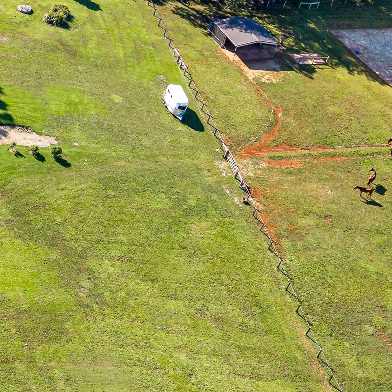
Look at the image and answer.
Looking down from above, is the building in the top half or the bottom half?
top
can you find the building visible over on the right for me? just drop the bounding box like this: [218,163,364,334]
[207,18,278,59]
